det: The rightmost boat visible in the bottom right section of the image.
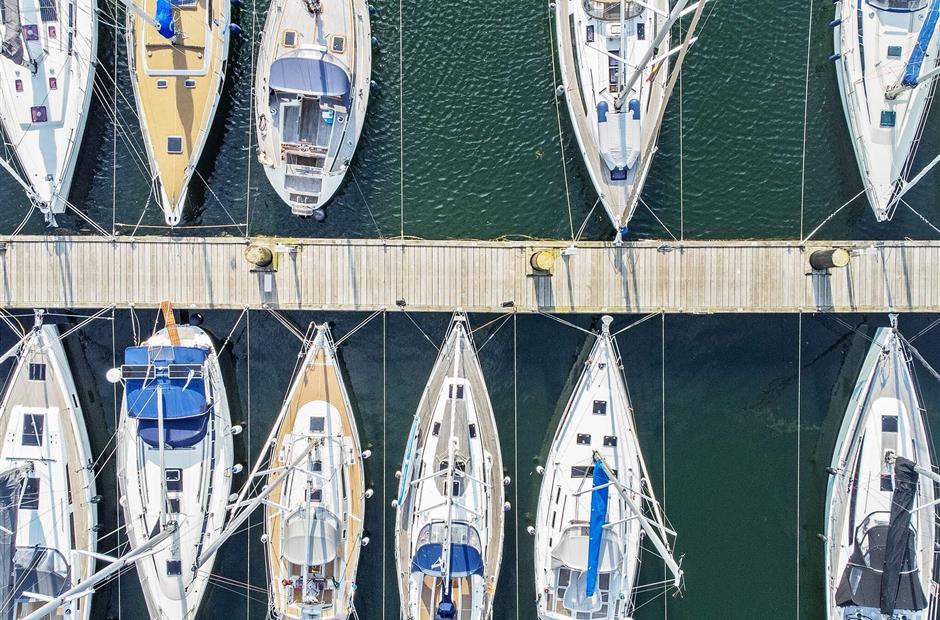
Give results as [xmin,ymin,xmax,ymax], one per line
[824,312,940,620]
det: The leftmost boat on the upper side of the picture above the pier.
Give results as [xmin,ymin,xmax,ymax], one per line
[0,0,96,228]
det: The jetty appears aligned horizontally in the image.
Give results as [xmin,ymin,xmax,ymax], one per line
[0,236,940,313]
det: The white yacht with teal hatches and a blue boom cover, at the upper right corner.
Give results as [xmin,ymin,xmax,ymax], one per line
[836,0,940,224]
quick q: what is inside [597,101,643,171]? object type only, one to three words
boat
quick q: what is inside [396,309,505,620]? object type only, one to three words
boat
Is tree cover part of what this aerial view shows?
No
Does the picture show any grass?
No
